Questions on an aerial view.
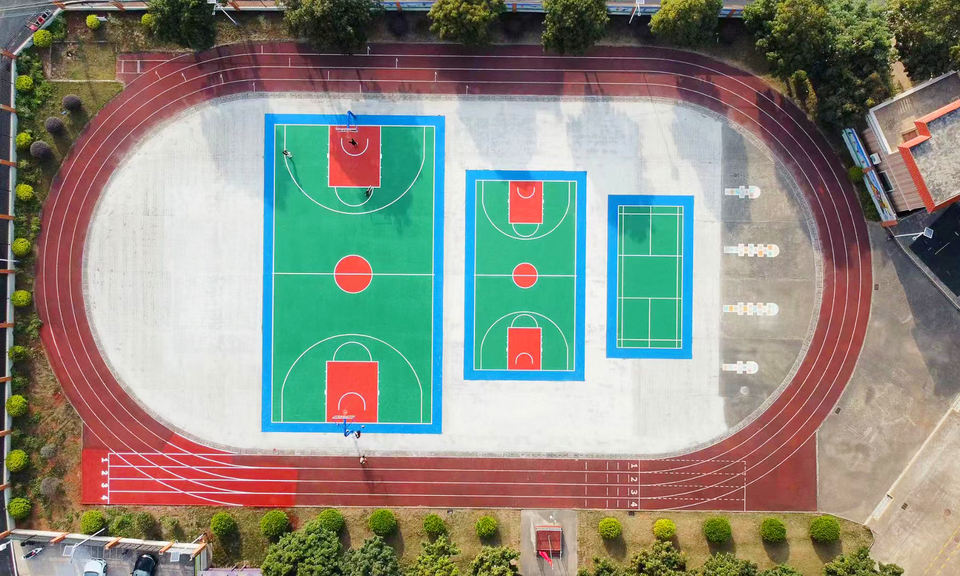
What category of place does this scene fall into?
sports ground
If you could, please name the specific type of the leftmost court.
basketball court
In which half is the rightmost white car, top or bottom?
bottom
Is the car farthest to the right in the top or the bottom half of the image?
bottom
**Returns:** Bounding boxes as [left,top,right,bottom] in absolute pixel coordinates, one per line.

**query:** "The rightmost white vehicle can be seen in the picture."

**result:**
[81,555,110,576]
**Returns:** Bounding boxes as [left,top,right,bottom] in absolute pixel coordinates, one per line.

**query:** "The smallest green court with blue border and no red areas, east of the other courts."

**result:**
[607,195,694,358]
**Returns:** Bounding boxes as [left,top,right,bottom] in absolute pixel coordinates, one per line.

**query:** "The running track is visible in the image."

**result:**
[31,40,874,513]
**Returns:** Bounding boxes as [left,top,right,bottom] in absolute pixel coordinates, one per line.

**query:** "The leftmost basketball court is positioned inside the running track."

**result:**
[262,114,445,434]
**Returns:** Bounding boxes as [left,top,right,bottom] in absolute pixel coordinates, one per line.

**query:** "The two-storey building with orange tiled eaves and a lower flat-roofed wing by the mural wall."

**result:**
[844,63,960,217]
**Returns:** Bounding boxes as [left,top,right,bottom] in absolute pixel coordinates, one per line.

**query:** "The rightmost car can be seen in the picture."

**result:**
[132,552,160,576]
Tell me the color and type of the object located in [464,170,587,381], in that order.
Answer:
green basketball court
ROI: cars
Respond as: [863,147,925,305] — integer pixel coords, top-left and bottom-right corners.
[81,555,110,576]
[132,552,160,576]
